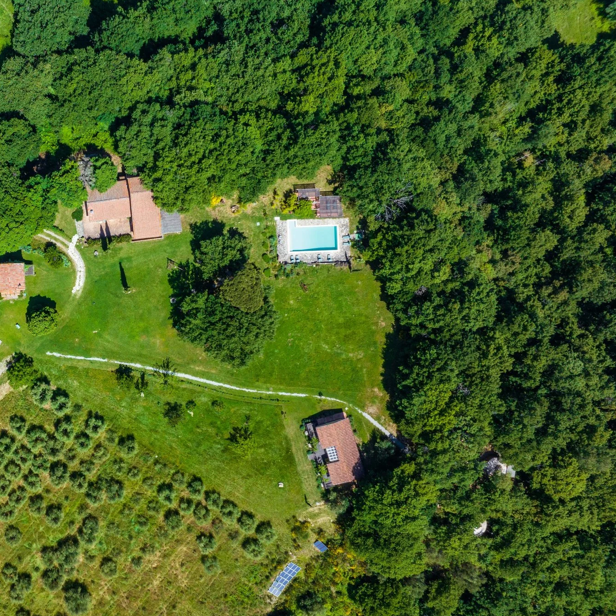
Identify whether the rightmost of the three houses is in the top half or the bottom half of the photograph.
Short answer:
bottom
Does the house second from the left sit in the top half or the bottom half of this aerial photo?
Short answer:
top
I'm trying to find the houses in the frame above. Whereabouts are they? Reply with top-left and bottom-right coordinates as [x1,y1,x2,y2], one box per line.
[75,176,182,241]
[0,263,34,300]
[304,411,366,489]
